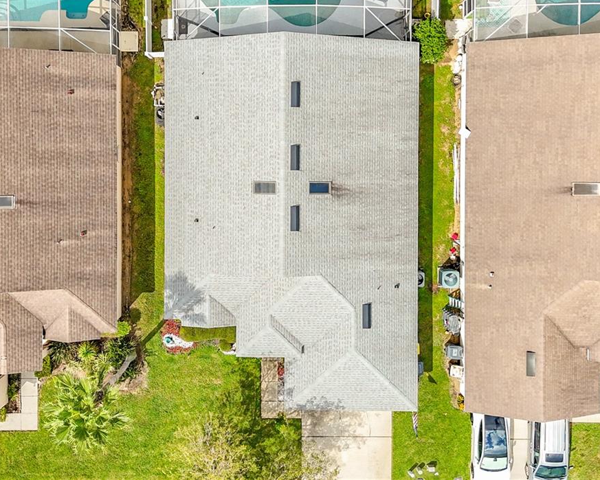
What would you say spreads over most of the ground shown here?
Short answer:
buildings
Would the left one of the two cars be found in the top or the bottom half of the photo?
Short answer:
bottom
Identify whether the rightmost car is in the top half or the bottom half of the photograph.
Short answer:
bottom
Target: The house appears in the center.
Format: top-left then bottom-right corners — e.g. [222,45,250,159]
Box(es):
[163,32,420,412]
